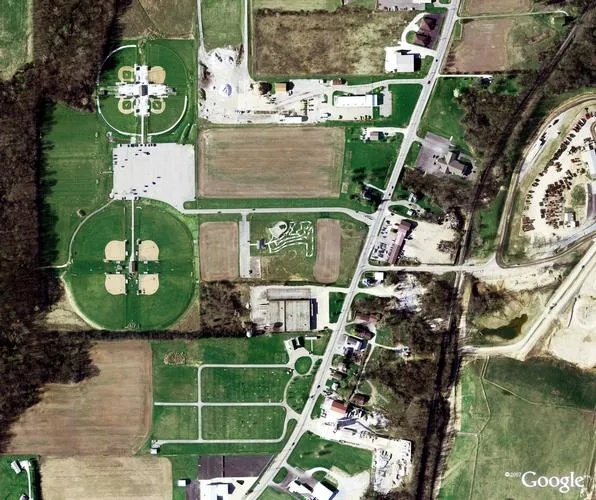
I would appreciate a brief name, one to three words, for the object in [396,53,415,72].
building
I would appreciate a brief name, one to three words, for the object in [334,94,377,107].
building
